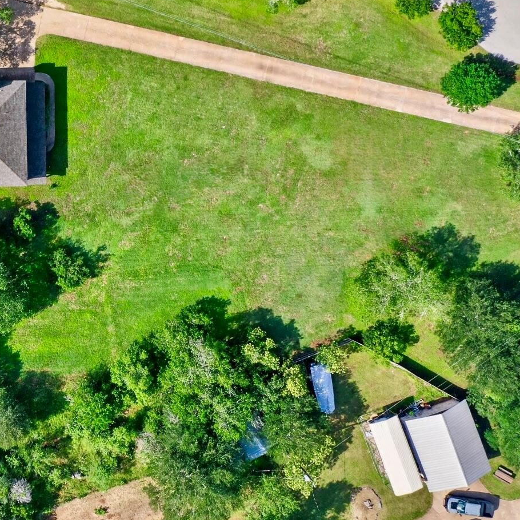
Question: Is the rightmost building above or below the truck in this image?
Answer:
above it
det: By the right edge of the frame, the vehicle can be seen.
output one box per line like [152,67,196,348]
[441,495,496,520]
